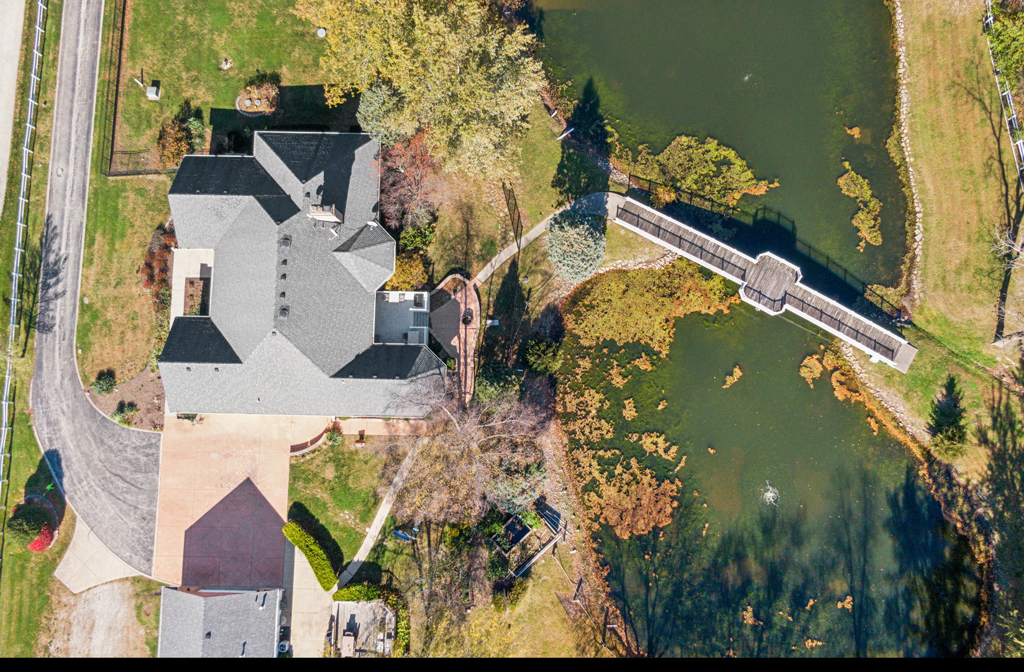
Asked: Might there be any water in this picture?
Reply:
Yes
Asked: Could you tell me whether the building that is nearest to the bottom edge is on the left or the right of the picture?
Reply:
left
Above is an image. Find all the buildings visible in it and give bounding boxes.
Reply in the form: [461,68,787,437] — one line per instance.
[157,581,288,672]
[158,131,448,418]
